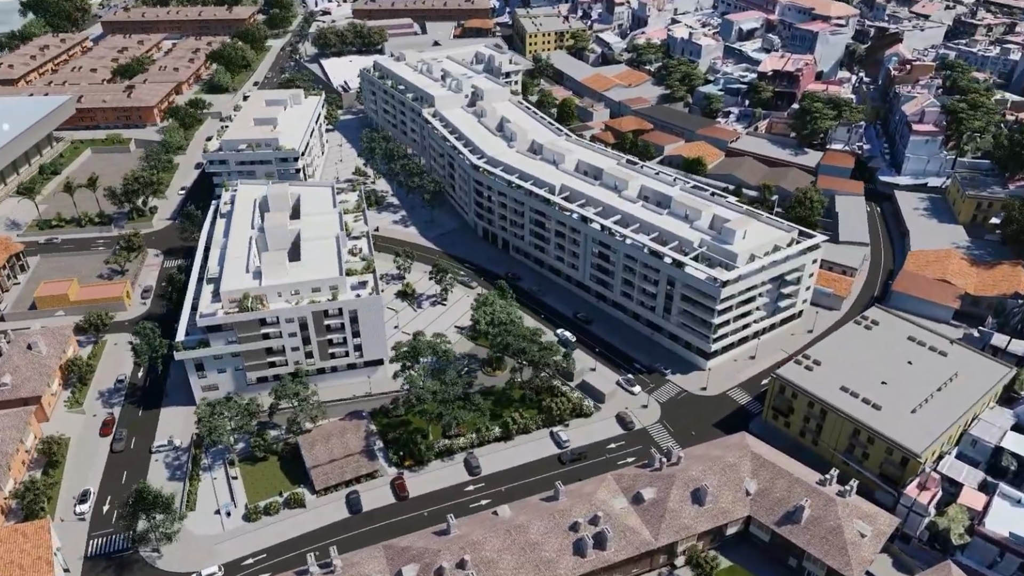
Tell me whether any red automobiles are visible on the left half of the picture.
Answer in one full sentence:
Yes, I can see a red automobile on the left half of the picture.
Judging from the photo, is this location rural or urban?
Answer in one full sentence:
The land in this view is best described as urban.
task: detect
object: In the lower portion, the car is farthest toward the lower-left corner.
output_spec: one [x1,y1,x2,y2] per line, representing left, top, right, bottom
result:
[74,488,95,515]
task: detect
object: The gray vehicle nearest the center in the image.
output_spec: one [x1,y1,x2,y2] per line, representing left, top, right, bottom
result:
[459,275,477,288]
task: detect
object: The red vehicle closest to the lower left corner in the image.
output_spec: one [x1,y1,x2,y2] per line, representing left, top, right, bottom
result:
[97,415,118,437]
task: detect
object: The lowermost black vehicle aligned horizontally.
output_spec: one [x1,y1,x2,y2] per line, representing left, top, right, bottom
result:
[559,449,588,464]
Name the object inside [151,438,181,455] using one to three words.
car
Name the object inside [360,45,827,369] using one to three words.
building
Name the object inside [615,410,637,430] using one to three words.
car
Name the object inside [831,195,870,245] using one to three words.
shed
